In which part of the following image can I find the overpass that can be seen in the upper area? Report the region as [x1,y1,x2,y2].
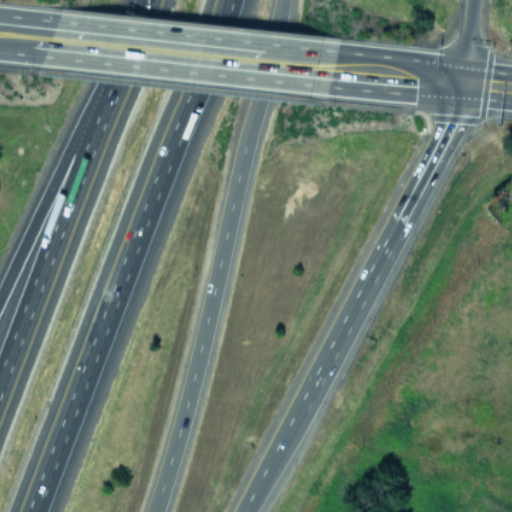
[40,10,343,104]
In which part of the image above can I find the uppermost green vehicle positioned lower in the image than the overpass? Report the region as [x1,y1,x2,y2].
[64,159,90,216]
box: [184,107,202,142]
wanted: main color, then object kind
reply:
white vehicle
